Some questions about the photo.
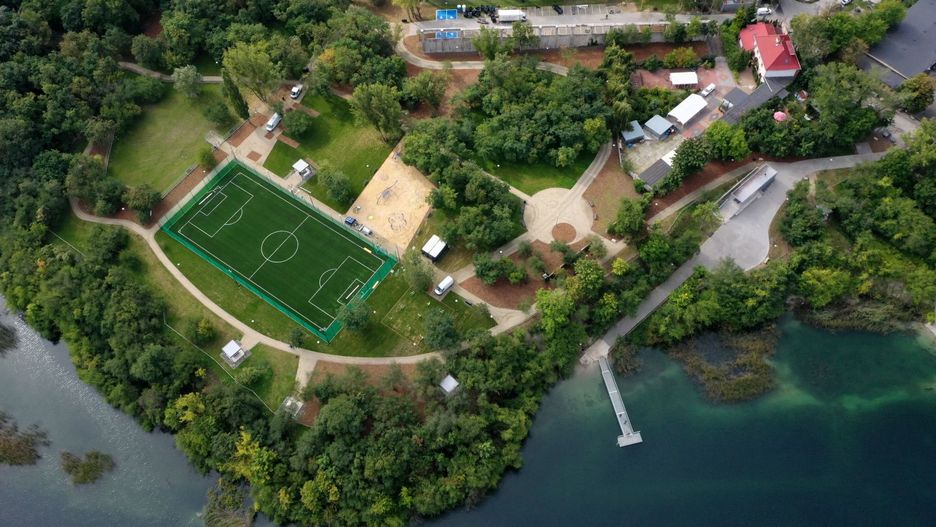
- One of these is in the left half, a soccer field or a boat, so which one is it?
soccer field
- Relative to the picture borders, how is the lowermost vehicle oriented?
at an angle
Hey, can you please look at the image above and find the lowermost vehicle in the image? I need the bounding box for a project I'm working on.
[434,272,454,294]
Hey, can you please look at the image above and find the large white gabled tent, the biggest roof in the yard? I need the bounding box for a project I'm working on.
[667,94,707,130]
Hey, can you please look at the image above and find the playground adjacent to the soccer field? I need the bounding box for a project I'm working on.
[346,140,436,252]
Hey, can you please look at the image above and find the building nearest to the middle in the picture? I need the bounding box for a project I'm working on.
[420,229,448,257]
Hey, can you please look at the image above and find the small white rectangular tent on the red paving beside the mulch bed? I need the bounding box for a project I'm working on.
[668,72,697,90]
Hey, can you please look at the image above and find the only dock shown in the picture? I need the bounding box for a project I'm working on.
[599,356,644,448]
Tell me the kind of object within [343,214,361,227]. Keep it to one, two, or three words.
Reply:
vehicle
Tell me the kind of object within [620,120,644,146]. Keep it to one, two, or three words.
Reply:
shed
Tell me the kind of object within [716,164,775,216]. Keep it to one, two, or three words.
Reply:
building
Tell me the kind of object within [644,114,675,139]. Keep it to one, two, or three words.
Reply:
shed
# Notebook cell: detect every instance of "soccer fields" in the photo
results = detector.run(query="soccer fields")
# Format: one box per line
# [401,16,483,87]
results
[168,163,392,336]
